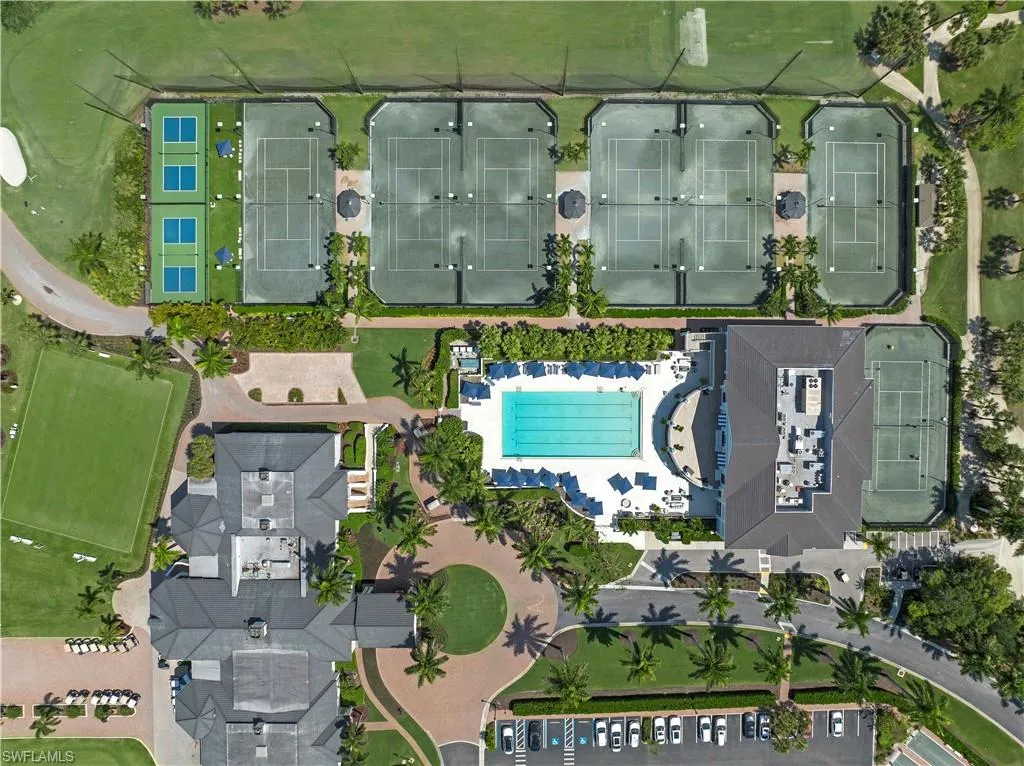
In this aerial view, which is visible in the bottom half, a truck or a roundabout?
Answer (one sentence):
The one visible in the bottom half is a roundabout.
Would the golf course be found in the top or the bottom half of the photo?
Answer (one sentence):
It is in the top half that the golf course appears.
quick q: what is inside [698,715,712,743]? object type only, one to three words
car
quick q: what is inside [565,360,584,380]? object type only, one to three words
umbrella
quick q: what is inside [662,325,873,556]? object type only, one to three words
building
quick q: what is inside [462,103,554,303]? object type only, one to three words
tennis court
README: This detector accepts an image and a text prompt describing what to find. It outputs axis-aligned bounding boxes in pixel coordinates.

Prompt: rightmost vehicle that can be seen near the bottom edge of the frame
[829,710,843,738]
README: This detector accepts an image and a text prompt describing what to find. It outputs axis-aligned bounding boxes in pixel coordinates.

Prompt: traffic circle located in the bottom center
[415,563,508,656]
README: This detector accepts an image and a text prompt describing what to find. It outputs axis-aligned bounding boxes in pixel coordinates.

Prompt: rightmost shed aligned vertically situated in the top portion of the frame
[915,185,935,229]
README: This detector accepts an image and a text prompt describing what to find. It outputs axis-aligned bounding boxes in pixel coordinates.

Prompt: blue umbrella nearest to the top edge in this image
[216,139,234,158]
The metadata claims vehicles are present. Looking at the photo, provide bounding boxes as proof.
[432,495,443,510]
[89,638,103,653]
[159,657,173,667]
[100,687,117,705]
[109,687,126,705]
[757,714,770,741]
[76,687,93,705]
[65,687,82,705]
[829,710,843,738]
[668,715,682,744]
[80,636,95,652]
[713,716,728,746]
[652,716,666,745]
[610,723,623,751]
[528,720,541,751]
[595,719,608,747]
[99,639,112,653]
[119,687,136,704]
[742,713,756,740]
[698,715,712,743]
[117,637,130,654]
[128,690,144,708]
[628,720,641,748]
[108,637,124,654]
[833,566,849,582]
[63,636,79,653]
[502,724,515,753]
[125,632,142,649]
[71,637,86,654]
[91,687,107,705]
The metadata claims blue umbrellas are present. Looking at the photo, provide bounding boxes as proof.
[642,476,657,491]
[528,362,545,378]
[614,362,630,379]
[599,362,614,378]
[476,384,492,399]
[506,469,524,488]
[216,139,234,158]
[628,361,646,381]
[502,361,520,379]
[462,381,479,398]
[488,362,505,379]
[582,361,599,378]
[565,360,584,380]
[525,471,539,486]
[612,476,633,496]
[562,474,580,492]
[589,502,603,517]
[215,245,236,266]
[539,470,558,490]
[571,491,588,508]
